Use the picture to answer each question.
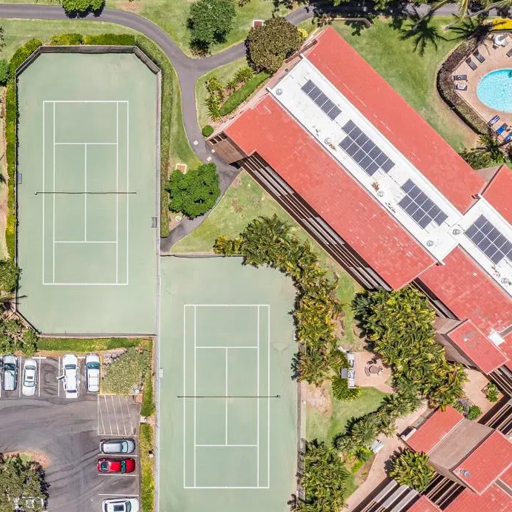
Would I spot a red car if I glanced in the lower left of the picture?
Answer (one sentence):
Yes, a red car is visible in the lower left of the picture.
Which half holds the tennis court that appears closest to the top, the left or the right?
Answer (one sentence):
You can find the tennis court that appears closest to the top on the left side of the picture.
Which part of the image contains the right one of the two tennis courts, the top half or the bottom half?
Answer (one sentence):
The right one of the two tennis courts sits in the bottom half of the picture.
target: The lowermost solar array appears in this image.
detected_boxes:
[464,215,512,267]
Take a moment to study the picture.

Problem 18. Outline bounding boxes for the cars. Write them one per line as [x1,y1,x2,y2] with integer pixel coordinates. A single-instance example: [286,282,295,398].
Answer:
[0,354,19,392]
[83,353,102,393]
[21,358,38,394]
[101,498,138,512]
[56,354,80,403]
[99,438,134,455]
[98,458,133,475]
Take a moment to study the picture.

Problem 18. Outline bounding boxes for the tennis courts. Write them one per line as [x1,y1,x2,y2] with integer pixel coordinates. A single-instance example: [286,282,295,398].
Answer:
[18,52,155,335]
[160,255,297,512]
